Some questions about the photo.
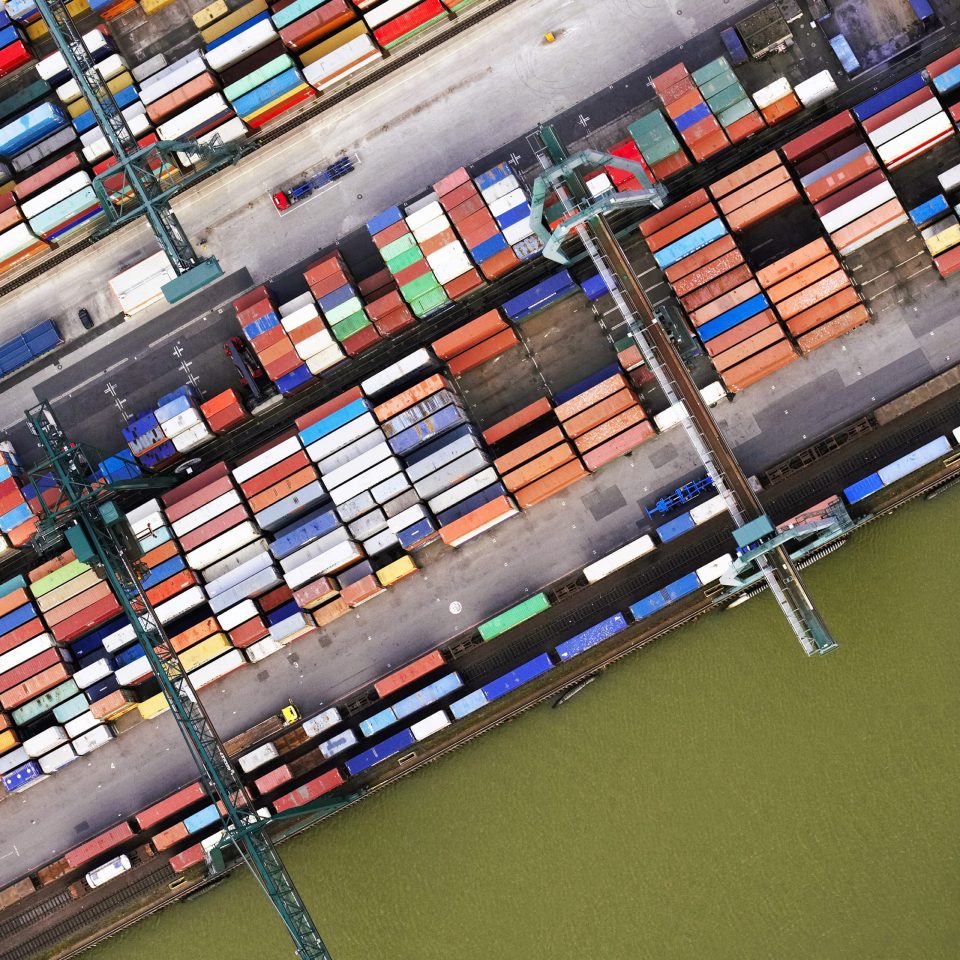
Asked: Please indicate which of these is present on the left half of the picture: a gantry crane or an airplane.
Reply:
gantry crane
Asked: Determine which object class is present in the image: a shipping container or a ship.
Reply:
shipping container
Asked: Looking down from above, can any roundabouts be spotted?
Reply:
No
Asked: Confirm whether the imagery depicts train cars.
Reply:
Yes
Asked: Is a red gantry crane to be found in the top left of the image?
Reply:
No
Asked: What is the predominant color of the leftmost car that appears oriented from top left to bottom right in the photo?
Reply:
black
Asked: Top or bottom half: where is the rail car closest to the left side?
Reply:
bottom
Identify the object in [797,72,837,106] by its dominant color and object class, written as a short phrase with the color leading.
white shipping container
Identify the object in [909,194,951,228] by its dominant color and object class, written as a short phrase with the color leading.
blue shipping container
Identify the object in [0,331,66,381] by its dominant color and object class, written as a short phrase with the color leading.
blue trailer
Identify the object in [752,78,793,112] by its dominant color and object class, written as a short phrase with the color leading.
white shipping container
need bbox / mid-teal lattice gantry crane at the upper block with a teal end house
[38,0,248,306]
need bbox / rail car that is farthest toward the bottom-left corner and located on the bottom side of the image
[0,878,38,913]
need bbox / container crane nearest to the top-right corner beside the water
[520,128,870,661]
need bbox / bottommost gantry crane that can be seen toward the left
[21,396,365,960]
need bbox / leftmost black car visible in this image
[77,306,98,331]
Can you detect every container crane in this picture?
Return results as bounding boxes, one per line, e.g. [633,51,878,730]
[38,0,248,306]
[520,128,870,661]
[21,396,365,960]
